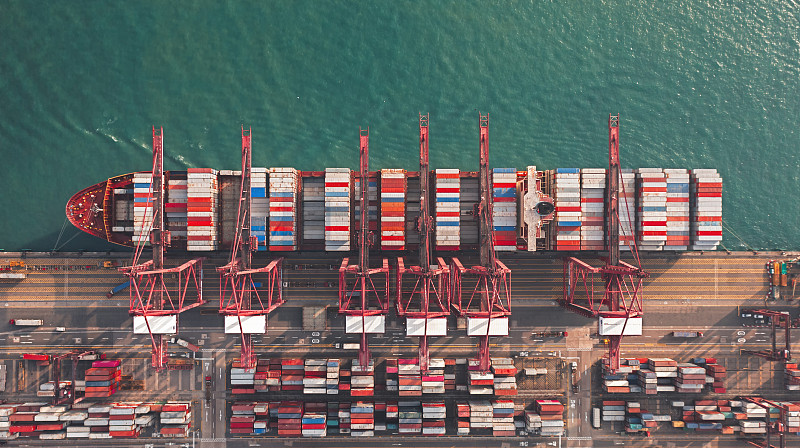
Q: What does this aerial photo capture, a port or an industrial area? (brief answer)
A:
port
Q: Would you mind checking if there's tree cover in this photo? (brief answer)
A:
No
